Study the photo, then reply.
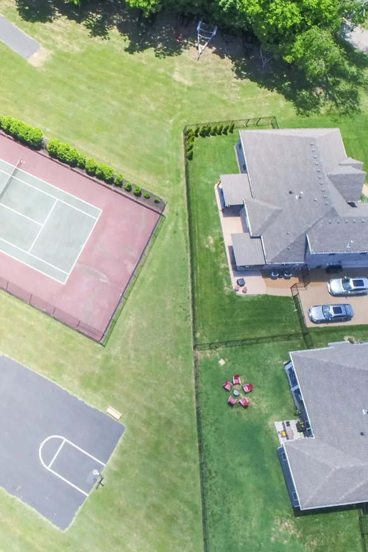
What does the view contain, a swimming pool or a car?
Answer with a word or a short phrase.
car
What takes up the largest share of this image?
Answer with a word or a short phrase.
grass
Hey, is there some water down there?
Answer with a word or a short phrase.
No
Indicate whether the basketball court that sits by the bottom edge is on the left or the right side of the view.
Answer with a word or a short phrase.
left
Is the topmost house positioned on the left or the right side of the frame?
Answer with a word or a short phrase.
right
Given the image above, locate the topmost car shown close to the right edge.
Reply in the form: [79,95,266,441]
[326,276,368,296]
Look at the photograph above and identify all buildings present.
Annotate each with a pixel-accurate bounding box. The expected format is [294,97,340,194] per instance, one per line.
[215,128,368,272]
[278,340,368,511]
